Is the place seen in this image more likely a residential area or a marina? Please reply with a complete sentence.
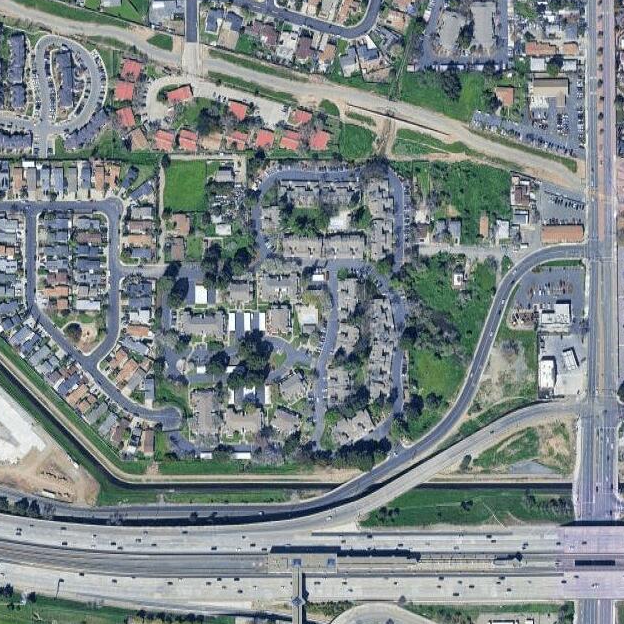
This looks like a residential area.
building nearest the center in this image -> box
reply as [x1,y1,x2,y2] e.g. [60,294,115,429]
[296,302,318,324]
